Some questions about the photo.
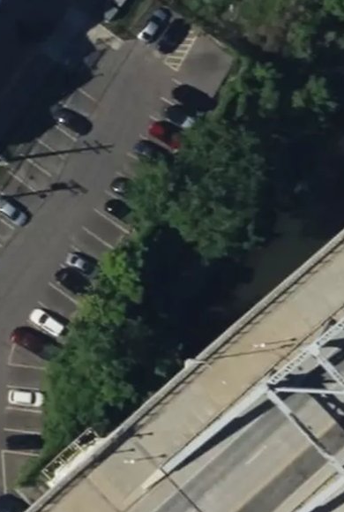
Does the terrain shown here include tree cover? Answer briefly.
Yes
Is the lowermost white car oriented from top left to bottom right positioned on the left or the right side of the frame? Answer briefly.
left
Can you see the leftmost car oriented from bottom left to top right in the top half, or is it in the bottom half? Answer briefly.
top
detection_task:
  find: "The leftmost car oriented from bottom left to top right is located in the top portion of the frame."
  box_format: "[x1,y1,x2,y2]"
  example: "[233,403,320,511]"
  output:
[137,9,169,45]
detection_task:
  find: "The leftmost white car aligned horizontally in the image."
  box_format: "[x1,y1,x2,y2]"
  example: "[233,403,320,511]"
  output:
[8,389,44,406]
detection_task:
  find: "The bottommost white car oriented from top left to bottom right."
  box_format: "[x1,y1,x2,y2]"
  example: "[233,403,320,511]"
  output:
[30,308,68,337]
